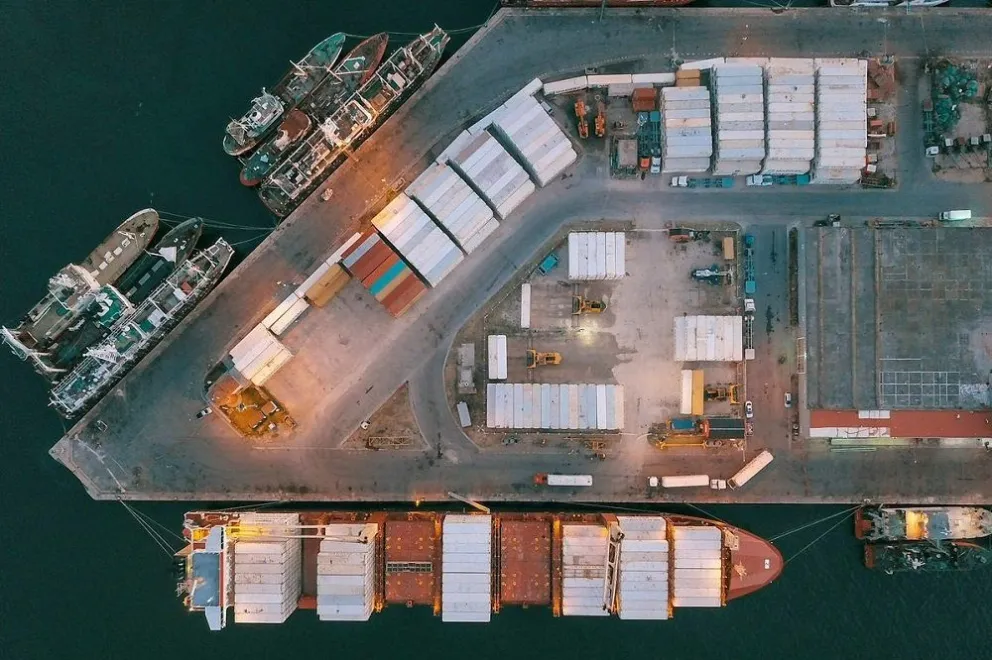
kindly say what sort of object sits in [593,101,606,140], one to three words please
vehicle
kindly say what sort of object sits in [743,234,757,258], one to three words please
vehicle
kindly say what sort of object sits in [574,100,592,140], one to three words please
work vehicle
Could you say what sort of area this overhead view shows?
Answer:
port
